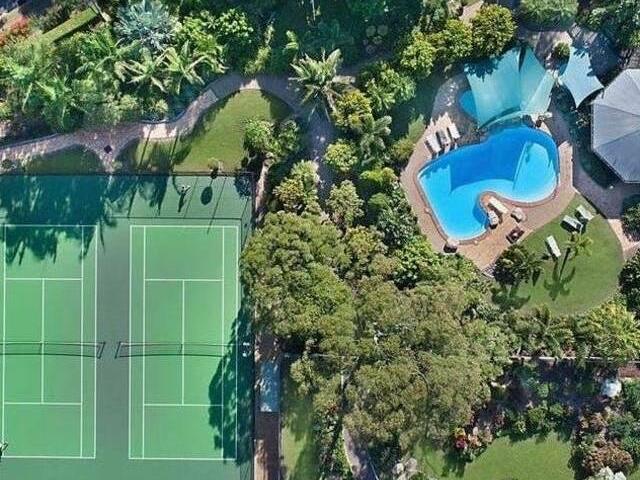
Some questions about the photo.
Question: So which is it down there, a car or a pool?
pool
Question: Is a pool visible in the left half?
No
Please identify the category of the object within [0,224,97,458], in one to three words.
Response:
tennis court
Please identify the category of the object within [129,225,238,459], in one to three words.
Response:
tennis court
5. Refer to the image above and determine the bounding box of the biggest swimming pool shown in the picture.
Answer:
[414,122,562,245]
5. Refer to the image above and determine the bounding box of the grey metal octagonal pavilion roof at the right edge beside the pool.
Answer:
[583,71,640,178]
